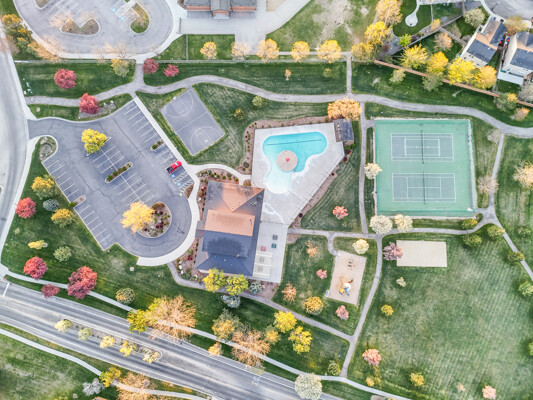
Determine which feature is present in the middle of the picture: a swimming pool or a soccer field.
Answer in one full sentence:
Looking in the middle of the picture, you will find a swimming pool.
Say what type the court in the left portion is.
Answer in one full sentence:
In the photo, the court in the left portion shows up as a basketball court.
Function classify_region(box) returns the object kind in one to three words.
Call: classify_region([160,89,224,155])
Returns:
basketball court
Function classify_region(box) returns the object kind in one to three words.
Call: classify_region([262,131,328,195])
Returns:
swimming pool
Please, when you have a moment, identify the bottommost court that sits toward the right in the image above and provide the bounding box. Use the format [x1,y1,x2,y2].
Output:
[396,240,447,268]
